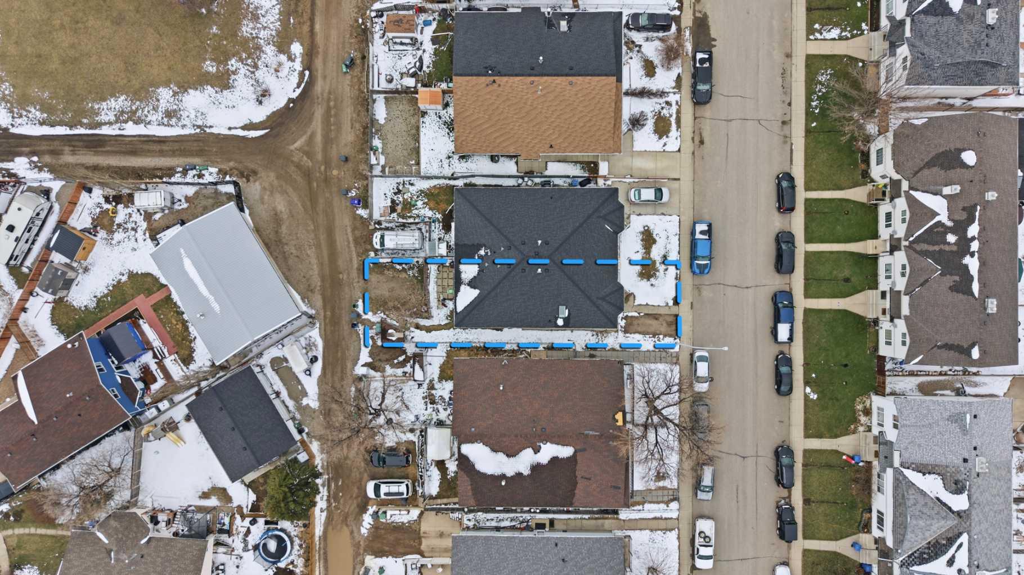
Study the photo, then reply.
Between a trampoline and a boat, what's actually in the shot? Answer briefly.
trampoline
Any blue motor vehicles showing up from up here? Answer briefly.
Yes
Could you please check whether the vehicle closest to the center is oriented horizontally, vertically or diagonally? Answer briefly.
horizontally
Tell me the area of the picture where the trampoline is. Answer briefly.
bottom left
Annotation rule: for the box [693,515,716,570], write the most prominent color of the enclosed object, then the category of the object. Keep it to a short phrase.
white truck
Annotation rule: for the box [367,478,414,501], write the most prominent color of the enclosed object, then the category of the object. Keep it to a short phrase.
white car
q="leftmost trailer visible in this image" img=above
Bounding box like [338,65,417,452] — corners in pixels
[0,188,53,265]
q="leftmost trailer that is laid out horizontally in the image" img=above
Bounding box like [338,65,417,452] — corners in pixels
[134,190,189,213]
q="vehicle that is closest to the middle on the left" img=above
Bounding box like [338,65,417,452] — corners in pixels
[374,229,424,251]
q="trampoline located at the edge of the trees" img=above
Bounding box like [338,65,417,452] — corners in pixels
[252,526,294,567]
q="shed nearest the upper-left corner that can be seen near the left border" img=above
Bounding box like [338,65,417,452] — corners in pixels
[46,224,98,262]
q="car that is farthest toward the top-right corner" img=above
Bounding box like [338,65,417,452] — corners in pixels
[774,172,797,213]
